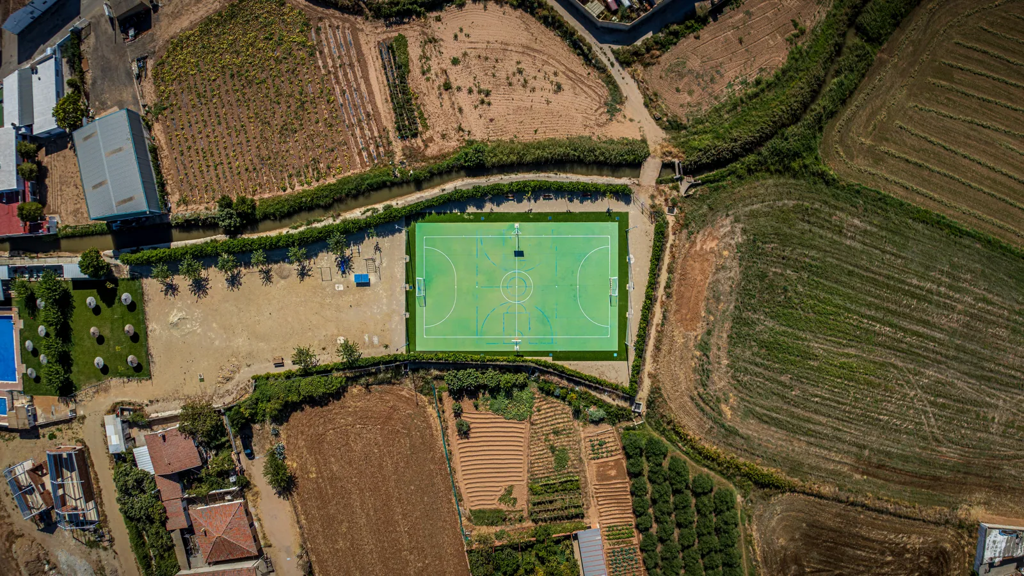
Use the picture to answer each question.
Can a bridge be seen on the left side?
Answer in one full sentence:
No, no bridge is visible on the left side.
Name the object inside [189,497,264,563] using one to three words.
house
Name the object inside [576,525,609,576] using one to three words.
shed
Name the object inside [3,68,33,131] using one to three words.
building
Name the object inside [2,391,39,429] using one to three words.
building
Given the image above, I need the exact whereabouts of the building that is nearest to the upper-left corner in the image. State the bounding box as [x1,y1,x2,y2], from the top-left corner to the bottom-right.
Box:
[2,0,76,40]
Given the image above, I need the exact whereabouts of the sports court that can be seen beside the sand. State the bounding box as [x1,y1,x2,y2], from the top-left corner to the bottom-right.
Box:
[416,222,619,351]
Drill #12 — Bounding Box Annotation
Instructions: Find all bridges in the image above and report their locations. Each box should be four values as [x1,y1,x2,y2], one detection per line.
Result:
[639,155,663,186]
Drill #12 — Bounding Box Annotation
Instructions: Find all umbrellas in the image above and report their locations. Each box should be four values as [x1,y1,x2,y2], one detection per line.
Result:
[89,326,100,337]
[127,355,138,365]
[93,357,104,367]
[23,341,34,352]
[85,295,96,306]
[26,367,37,378]
[36,326,47,336]
[121,293,132,304]
[124,324,134,335]
[38,354,48,364]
